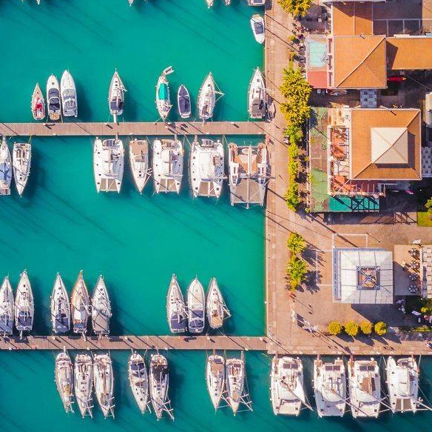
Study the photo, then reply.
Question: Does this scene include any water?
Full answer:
Yes, the picture does contain water.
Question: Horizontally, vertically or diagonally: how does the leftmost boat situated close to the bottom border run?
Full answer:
In this picture, the leftmost boat situated close to the bottom border is oriented vertically.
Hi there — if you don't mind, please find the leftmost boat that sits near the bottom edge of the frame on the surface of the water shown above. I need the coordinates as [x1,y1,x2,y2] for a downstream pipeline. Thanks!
[51,347,75,414]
